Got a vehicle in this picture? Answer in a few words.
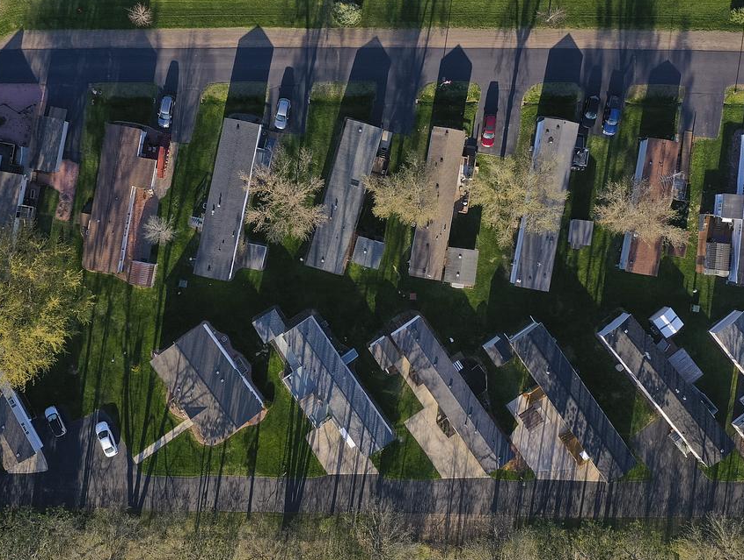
Yes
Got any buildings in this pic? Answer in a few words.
Yes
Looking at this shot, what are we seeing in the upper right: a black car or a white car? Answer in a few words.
black car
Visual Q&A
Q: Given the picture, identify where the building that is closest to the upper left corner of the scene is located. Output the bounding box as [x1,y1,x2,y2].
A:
[35,106,72,172]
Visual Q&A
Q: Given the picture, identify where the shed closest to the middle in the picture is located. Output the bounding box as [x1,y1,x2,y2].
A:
[352,236,385,268]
